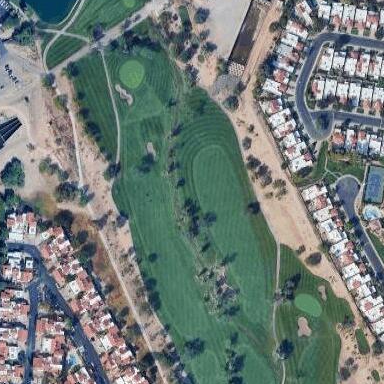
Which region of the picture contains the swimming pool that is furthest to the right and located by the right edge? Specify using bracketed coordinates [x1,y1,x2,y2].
[363,204,382,218]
